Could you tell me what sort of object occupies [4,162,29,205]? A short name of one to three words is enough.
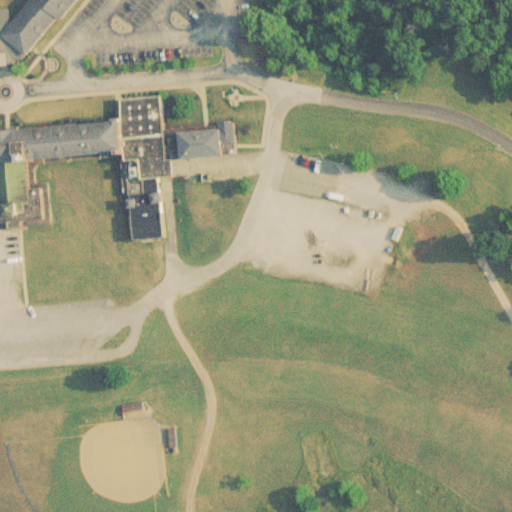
building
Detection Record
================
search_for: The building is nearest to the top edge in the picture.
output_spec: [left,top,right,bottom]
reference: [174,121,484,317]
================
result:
[0,0,76,55]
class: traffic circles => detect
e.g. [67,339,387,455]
[0,76,24,113]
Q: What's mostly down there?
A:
grass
